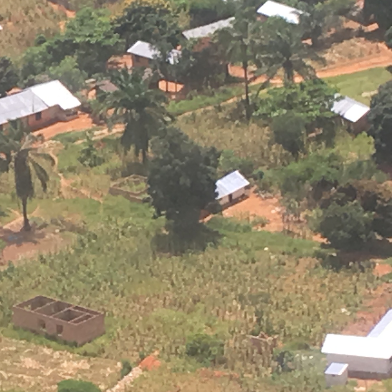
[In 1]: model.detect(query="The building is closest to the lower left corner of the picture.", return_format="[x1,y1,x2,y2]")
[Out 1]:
[14,295,104,344]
